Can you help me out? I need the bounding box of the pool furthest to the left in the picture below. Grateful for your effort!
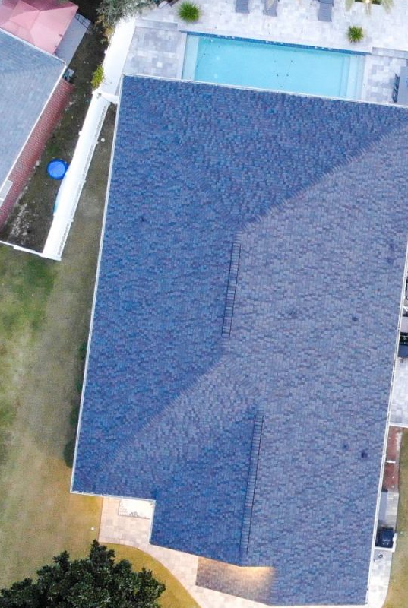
[45,158,68,180]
